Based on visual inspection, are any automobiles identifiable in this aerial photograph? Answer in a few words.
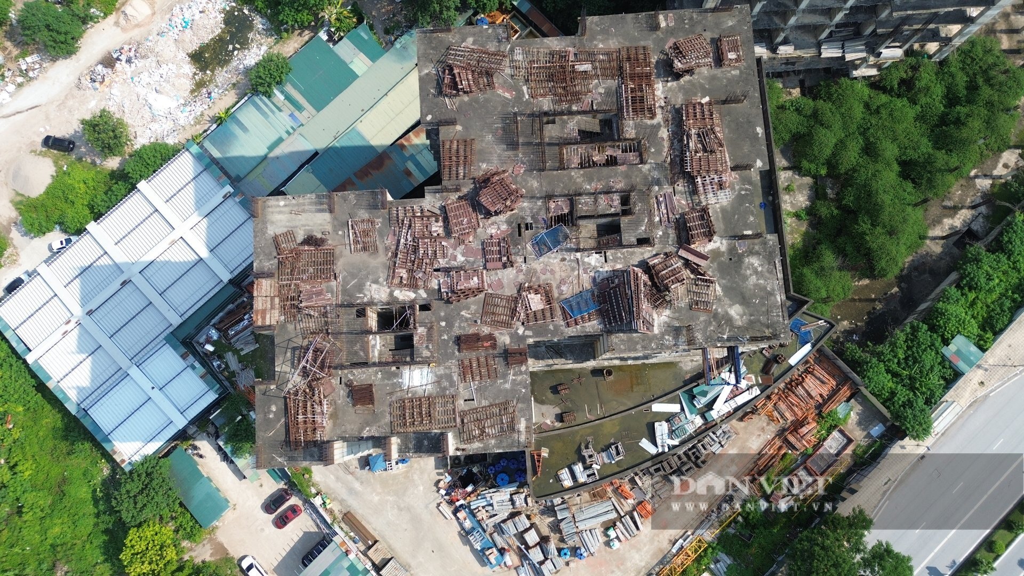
Yes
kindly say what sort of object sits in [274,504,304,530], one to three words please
car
